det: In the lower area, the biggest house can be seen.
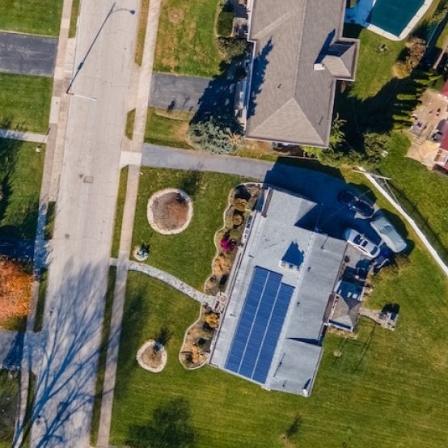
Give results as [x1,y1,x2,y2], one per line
[207,187,349,398]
